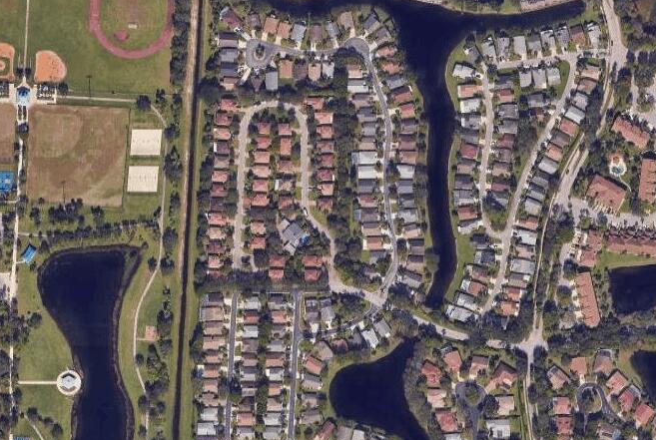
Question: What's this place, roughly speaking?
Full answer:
What you see here is a residential area.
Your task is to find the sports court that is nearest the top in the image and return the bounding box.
[130,129,162,156]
